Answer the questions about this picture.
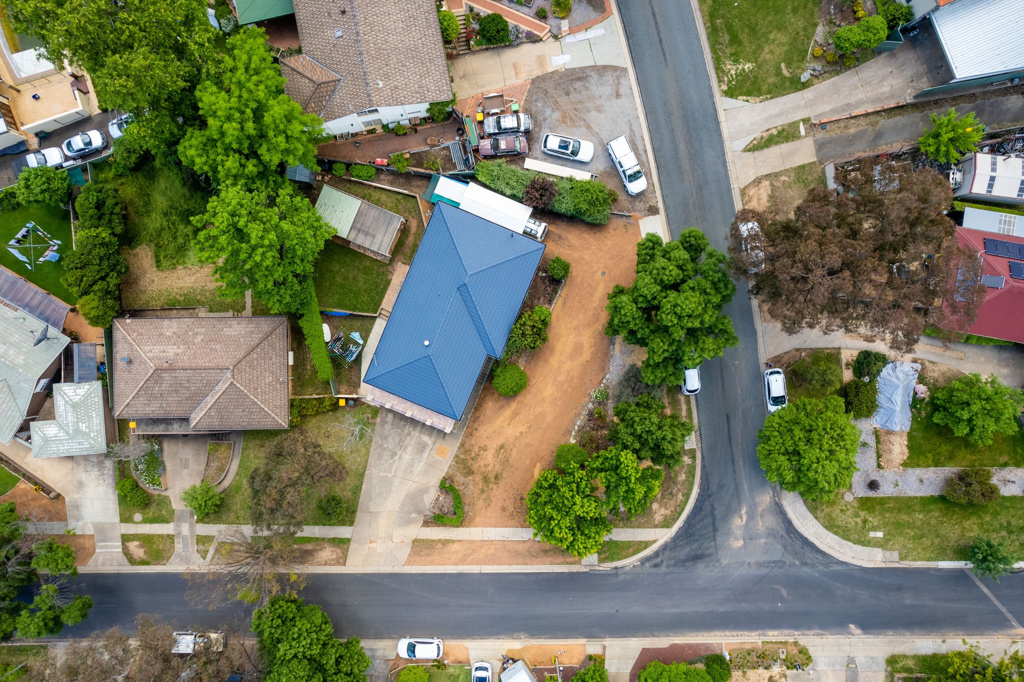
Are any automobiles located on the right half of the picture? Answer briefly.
Yes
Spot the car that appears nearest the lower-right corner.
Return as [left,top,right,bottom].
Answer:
[767,368,791,417]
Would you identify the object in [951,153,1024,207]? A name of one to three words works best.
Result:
building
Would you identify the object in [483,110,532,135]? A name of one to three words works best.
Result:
car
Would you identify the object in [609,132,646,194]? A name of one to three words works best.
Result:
truck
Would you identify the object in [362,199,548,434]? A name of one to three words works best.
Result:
house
